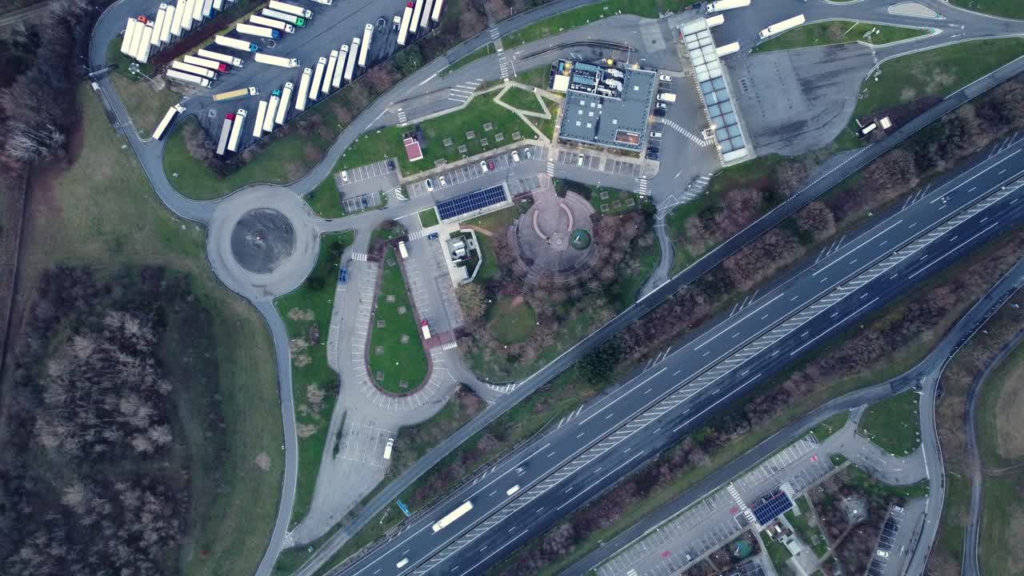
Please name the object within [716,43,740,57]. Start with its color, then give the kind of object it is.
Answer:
white vehicle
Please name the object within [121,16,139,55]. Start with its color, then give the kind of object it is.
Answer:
white vehicle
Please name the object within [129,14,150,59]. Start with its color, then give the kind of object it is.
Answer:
white truck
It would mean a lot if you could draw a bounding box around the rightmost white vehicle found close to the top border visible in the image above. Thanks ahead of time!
[756,14,806,42]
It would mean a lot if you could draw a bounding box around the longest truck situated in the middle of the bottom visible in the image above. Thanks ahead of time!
[432,500,474,532]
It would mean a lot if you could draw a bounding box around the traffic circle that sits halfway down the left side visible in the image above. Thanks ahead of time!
[206,184,319,298]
